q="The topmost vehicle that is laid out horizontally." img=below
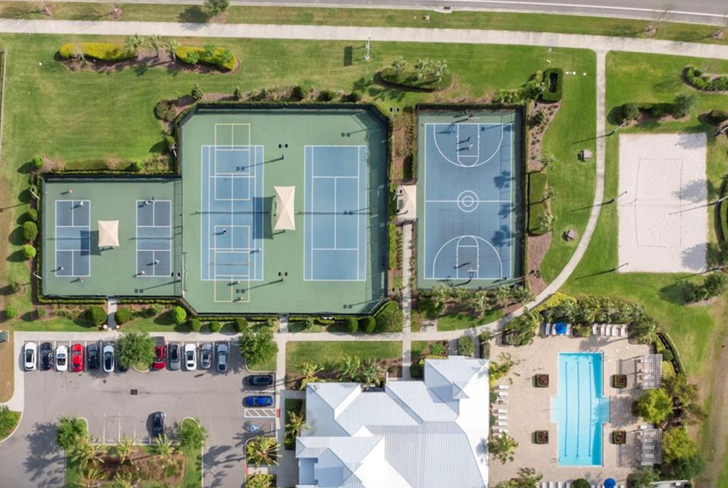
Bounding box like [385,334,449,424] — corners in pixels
[248,373,274,386]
